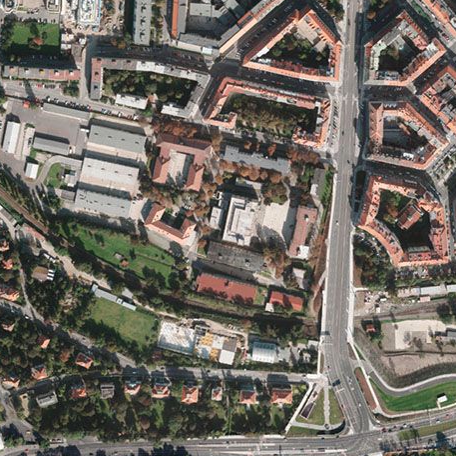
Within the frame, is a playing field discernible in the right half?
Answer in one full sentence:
No, there is no playing field in the right half.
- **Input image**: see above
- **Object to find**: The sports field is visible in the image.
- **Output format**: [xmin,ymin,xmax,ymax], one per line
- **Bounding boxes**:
[94,301,154,343]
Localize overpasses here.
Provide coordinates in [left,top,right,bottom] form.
[322,233,358,387]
